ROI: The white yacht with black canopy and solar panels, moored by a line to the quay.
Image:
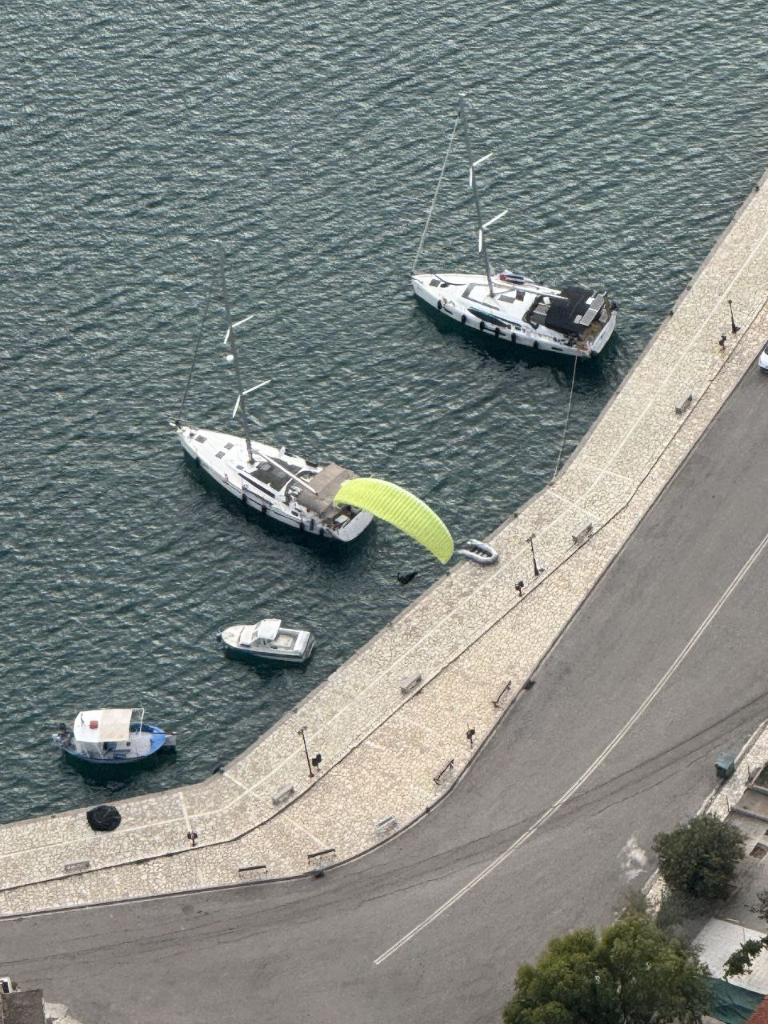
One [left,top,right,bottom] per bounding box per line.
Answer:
[409,87,620,362]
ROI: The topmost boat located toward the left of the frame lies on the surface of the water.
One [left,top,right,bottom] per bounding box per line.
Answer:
[175,235,375,549]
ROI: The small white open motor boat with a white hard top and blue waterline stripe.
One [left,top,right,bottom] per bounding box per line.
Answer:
[218,616,321,662]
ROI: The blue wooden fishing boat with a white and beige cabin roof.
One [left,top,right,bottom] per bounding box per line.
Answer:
[59,705,183,758]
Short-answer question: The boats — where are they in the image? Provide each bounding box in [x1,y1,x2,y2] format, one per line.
[175,235,375,549]
[409,87,620,362]
[218,616,321,662]
[59,705,183,758]
[456,535,498,562]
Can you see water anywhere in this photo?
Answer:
Yes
